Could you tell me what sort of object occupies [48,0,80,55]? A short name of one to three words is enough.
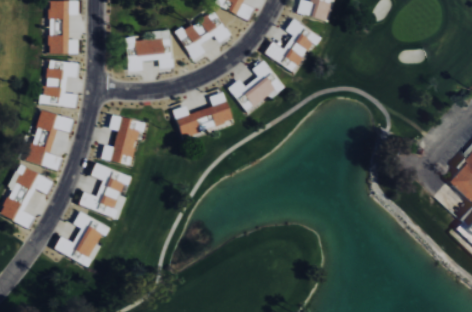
house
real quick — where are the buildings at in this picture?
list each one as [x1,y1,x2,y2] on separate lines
[227,60,285,115]
[125,30,174,75]
[48,0,80,55]
[0,164,54,229]
[172,92,232,137]
[174,12,231,63]
[54,212,110,267]
[296,0,334,22]
[100,115,146,166]
[264,18,322,74]
[24,110,74,171]
[38,60,80,108]
[448,144,472,243]
[215,0,254,21]
[78,163,132,220]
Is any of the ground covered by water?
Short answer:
Yes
